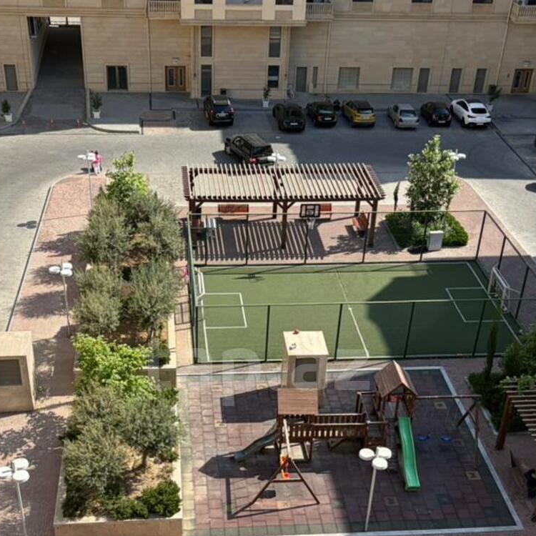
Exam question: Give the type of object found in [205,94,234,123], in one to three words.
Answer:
car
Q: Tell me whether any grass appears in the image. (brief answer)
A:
Yes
